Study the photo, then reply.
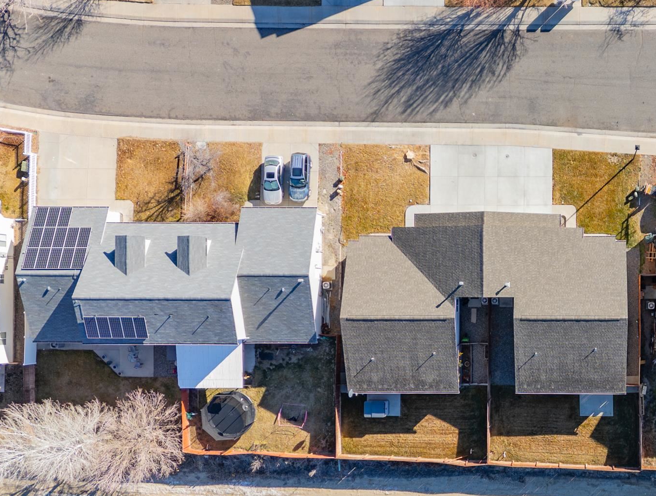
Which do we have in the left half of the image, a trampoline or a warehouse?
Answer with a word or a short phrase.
trampoline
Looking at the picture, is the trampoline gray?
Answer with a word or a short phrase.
Yes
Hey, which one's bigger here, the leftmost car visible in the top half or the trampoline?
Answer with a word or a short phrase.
the trampoline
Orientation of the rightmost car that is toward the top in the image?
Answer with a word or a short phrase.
up and down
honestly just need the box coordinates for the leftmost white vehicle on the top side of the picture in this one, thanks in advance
[261,157,286,205]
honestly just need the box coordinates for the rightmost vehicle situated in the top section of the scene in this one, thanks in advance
[287,153,313,204]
